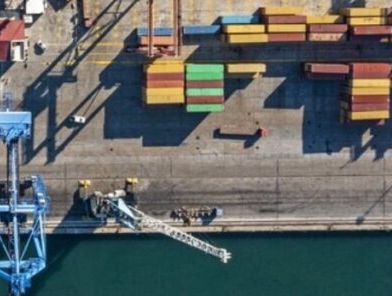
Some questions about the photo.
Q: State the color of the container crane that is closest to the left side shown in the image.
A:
blue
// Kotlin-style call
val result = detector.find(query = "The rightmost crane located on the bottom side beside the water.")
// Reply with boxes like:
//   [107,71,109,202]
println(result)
[81,179,229,263]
